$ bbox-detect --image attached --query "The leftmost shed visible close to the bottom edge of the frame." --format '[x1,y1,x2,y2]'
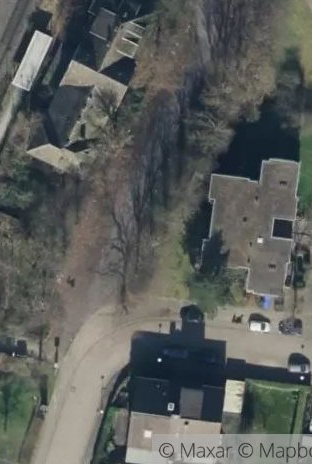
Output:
[114,408,128,446]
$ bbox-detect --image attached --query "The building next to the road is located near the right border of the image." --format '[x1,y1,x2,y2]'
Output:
[201,159,301,297]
